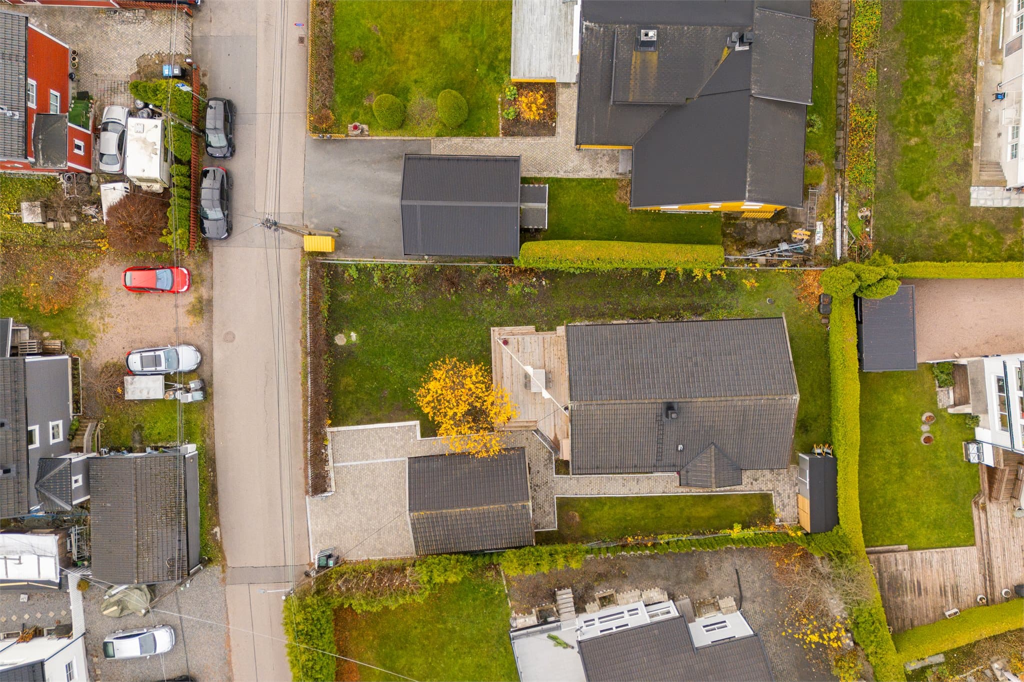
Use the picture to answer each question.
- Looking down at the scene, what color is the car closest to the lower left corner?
white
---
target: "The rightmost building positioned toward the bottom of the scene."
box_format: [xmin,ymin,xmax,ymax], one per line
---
[962,351,1024,468]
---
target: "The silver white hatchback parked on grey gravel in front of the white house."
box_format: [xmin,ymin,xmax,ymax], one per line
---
[101,620,179,662]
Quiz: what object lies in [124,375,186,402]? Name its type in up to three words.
trailer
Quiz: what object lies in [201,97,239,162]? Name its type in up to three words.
car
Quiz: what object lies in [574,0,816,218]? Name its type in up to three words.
house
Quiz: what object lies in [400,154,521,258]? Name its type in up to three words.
building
